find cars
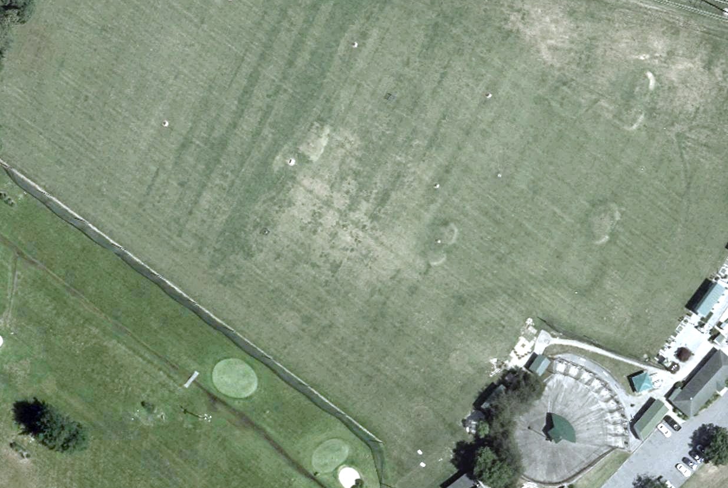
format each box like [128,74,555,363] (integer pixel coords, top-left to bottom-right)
[666,479,676,488]
[664,415,681,431]
[675,461,691,478]
[682,454,697,471]
[656,422,671,438]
